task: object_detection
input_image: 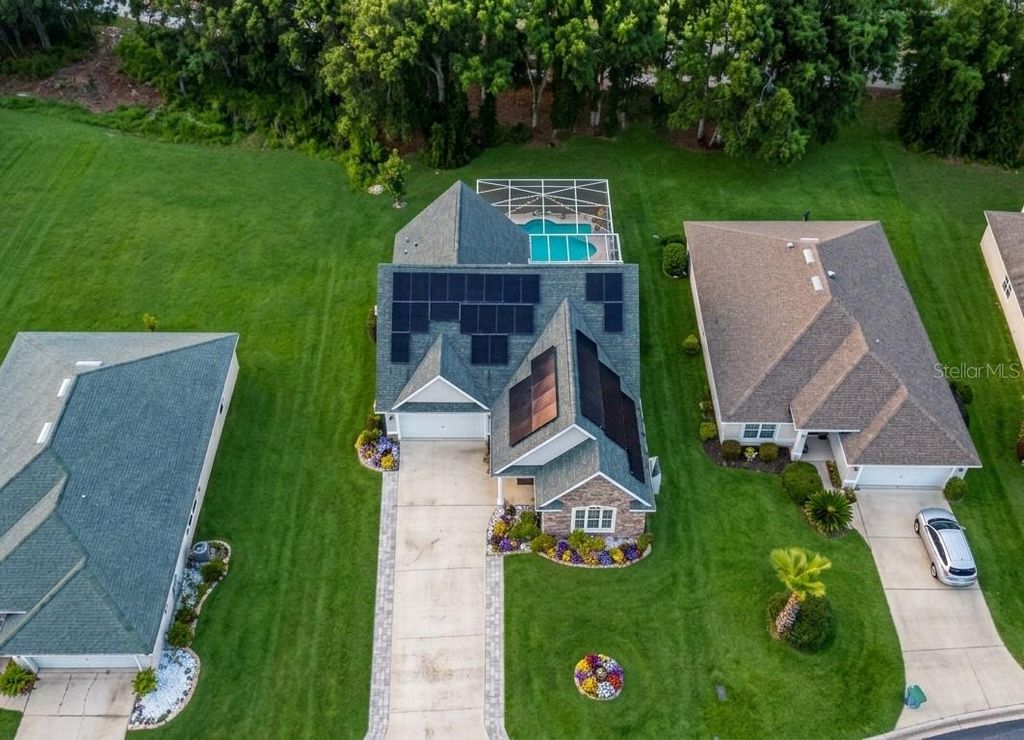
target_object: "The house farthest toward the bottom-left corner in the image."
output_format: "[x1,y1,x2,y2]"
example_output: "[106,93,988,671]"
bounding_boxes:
[0,331,240,670]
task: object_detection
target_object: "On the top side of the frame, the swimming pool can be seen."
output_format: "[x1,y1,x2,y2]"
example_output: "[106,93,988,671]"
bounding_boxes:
[515,215,601,262]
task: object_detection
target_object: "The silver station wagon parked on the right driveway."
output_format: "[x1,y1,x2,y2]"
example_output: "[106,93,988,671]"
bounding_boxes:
[913,507,978,588]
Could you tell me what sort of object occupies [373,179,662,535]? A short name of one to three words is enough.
house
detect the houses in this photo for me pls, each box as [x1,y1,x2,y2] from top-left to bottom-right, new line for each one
[683,220,983,488]
[373,179,662,535]
[980,211,1024,362]
[0,331,240,670]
